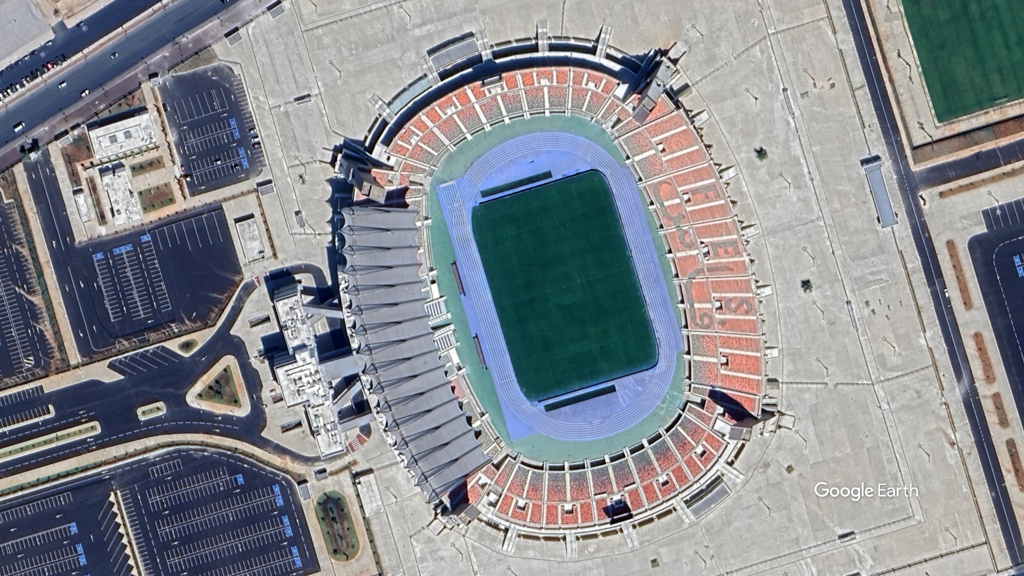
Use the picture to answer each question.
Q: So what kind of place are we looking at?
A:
sports ground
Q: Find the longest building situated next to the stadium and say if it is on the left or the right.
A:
left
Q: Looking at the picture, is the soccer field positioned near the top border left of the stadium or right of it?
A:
on its right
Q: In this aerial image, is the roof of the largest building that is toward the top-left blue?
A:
No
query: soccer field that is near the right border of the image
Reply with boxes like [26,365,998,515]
[869,0,1024,147]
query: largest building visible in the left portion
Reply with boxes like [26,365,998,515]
[257,283,349,459]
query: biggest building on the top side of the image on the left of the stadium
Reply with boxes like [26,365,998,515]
[88,109,158,161]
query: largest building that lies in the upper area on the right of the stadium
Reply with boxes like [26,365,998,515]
[863,159,899,229]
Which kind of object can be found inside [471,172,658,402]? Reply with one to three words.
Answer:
soccer field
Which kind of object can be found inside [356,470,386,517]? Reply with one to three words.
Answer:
building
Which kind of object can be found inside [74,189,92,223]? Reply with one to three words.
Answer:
building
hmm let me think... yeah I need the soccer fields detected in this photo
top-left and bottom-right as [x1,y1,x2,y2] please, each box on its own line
[471,172,658,402]
[869,0,1024,147]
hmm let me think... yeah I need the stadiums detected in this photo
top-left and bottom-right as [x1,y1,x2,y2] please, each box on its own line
[320,19,795,558]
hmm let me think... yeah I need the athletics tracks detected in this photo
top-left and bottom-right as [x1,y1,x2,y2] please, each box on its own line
[430,115,683,463]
